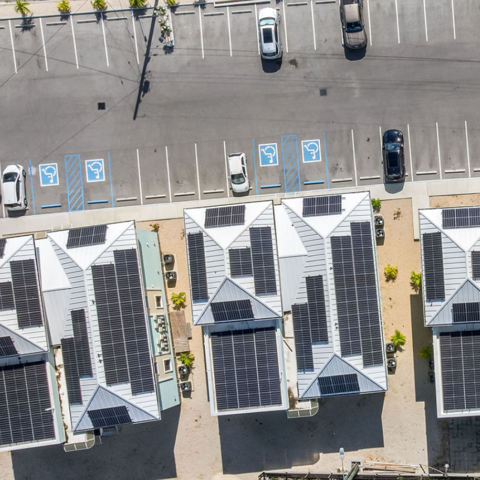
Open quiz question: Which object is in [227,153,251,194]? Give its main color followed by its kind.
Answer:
white car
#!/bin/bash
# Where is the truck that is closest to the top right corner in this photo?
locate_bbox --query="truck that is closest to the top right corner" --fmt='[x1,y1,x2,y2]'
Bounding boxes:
[340,0,366,50]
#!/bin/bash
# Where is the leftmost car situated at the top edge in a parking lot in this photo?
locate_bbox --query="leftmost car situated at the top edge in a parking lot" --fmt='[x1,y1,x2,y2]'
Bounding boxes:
[254,8,284,60]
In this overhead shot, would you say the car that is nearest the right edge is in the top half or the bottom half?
top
